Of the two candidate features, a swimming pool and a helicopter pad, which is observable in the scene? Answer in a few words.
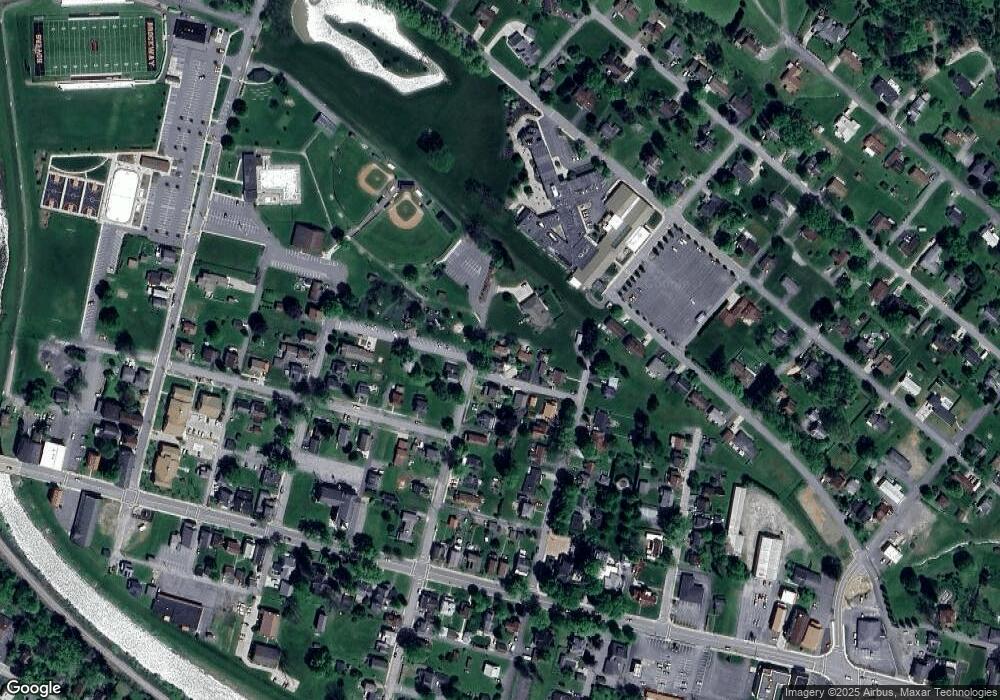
swimming pool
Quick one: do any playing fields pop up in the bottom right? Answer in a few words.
No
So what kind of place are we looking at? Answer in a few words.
residential area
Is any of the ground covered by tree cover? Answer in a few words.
Yes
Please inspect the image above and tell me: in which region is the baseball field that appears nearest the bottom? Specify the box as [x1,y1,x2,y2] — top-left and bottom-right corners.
[357,191,444,266]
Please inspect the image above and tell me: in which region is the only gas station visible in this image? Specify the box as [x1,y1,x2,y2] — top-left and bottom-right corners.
[857,614,885,648]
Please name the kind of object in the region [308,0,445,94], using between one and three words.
pond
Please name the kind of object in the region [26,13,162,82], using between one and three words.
sports field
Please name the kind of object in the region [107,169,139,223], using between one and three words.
sports court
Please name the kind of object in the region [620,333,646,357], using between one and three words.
house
